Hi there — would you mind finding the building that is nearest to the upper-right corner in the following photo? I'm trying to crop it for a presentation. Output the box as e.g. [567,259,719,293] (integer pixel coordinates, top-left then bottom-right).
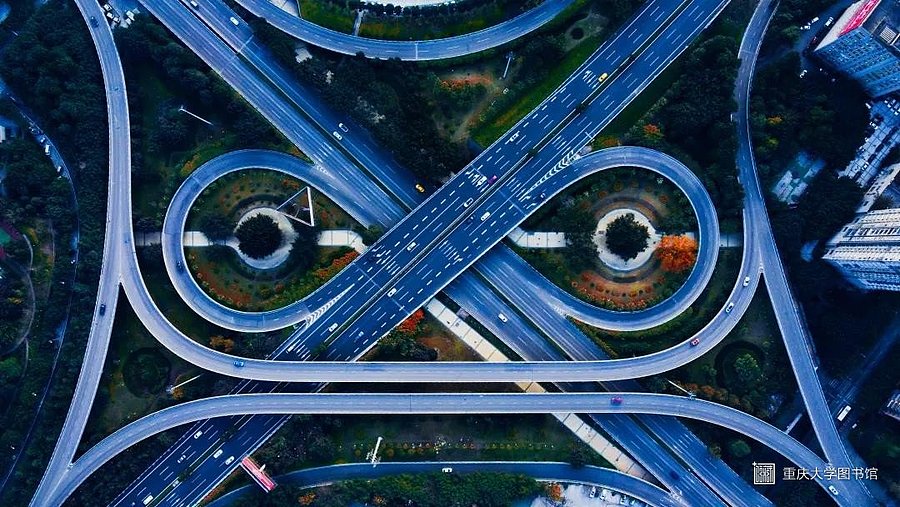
[814,0,900,95]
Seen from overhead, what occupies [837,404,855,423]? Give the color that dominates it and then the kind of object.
white vehicle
